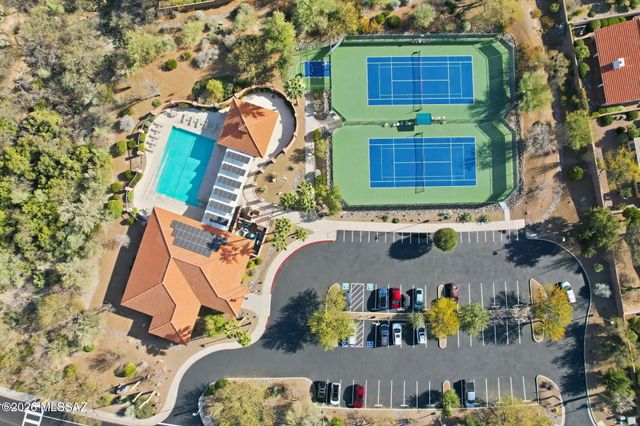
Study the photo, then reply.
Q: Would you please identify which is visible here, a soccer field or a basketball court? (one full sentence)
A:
I can see a basketball court in this picture.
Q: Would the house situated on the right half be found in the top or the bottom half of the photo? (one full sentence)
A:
You can find the house situated on the right half in the top half.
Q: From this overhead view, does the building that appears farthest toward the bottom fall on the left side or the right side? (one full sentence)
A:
The building that appears farthest toward the bottom appears in the left half of the scene.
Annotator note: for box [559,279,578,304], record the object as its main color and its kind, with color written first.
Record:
white car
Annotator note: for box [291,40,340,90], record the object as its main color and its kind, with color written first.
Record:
green basketball court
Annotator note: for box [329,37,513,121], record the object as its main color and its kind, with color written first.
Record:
green tennis court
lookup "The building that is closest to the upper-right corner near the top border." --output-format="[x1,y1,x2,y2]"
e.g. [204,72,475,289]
[592,11,640,105]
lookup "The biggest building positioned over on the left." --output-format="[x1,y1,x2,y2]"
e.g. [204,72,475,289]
[118,206,254,346]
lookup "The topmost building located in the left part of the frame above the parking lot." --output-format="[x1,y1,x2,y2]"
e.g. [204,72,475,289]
[218,98,279,158]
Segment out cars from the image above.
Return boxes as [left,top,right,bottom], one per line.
[354,384,364,407]
[392,322,402,345]
[380,323,390,345]
[316,380,326,402]
[379,287,389,309]
[342,288,351,310]
[346,325,354,345]
[417,324,427,345]
[559,279,578,304]
[391,287,401,308]
[414,289,424,310]
[330,382,341,404]
[449,282,460,304]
